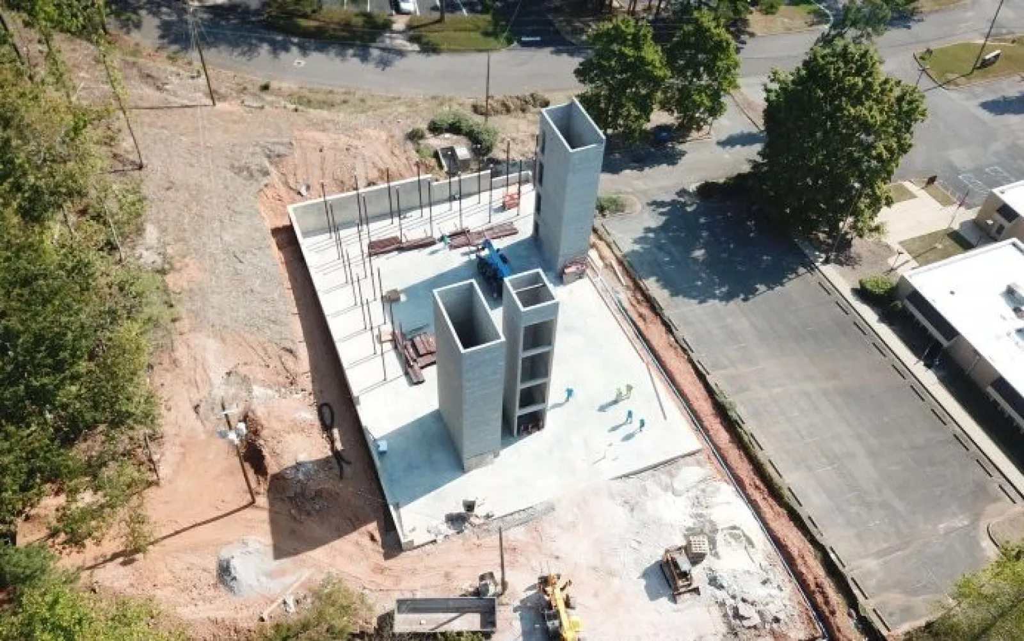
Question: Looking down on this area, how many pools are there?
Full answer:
Not a single pool can be seen.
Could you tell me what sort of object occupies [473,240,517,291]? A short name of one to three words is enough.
work vehicle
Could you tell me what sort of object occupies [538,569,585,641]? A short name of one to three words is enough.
work vehicle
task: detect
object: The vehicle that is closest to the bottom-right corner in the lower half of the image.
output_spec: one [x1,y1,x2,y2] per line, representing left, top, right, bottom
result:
[656,540,705,604]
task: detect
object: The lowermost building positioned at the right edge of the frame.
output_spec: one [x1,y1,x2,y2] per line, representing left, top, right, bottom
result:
[896,234,1024,449]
